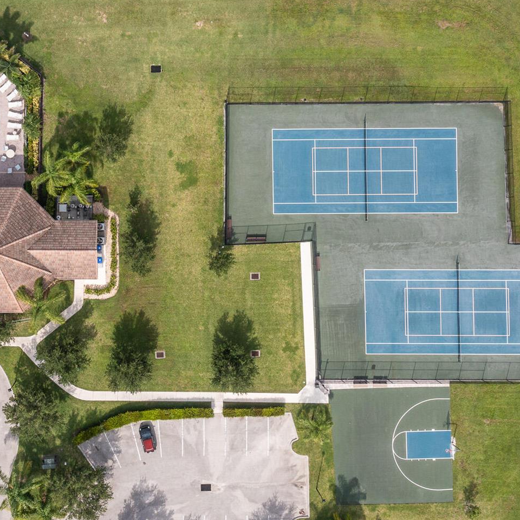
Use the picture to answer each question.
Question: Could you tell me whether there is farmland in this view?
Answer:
No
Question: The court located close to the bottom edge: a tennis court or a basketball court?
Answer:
basketball court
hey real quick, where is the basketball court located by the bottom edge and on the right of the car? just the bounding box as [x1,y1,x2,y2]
[330,386,453,505]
